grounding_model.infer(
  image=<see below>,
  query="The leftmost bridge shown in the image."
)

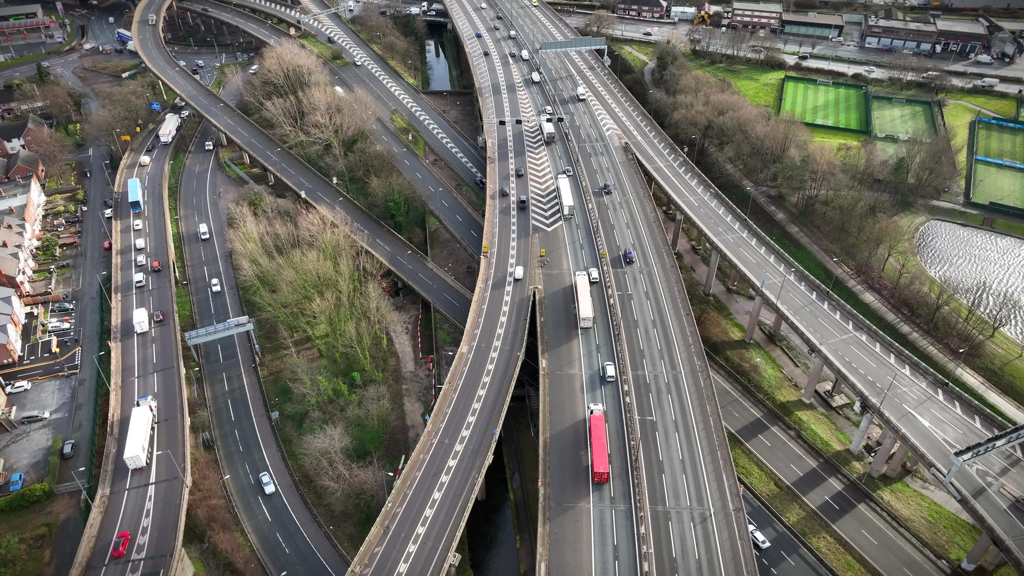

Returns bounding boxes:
[81,102,189,576]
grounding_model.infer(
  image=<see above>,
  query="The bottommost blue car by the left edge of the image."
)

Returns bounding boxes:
[6,471,23,489]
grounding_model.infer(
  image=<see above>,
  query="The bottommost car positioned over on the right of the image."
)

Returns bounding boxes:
[752,524,770,551]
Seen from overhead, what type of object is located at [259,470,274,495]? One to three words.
car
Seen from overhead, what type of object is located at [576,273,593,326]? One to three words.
vehicle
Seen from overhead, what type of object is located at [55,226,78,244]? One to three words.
building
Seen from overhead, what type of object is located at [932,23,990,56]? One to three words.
building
